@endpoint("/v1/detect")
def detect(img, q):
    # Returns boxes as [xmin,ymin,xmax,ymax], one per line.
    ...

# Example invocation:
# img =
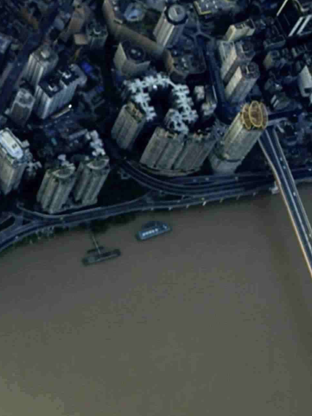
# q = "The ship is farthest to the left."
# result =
[83,248,121,265]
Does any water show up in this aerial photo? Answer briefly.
Yes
